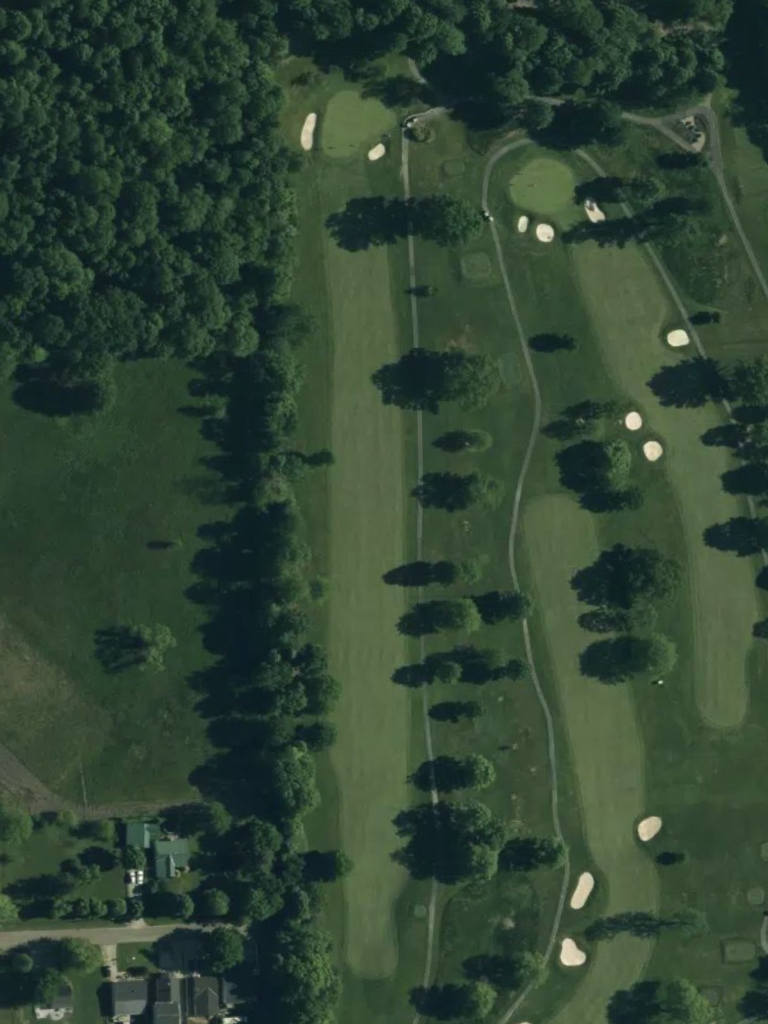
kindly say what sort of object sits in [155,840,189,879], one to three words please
house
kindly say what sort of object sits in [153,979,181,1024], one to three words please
house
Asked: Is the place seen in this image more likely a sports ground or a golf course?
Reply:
golf course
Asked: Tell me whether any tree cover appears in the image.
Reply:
Yes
